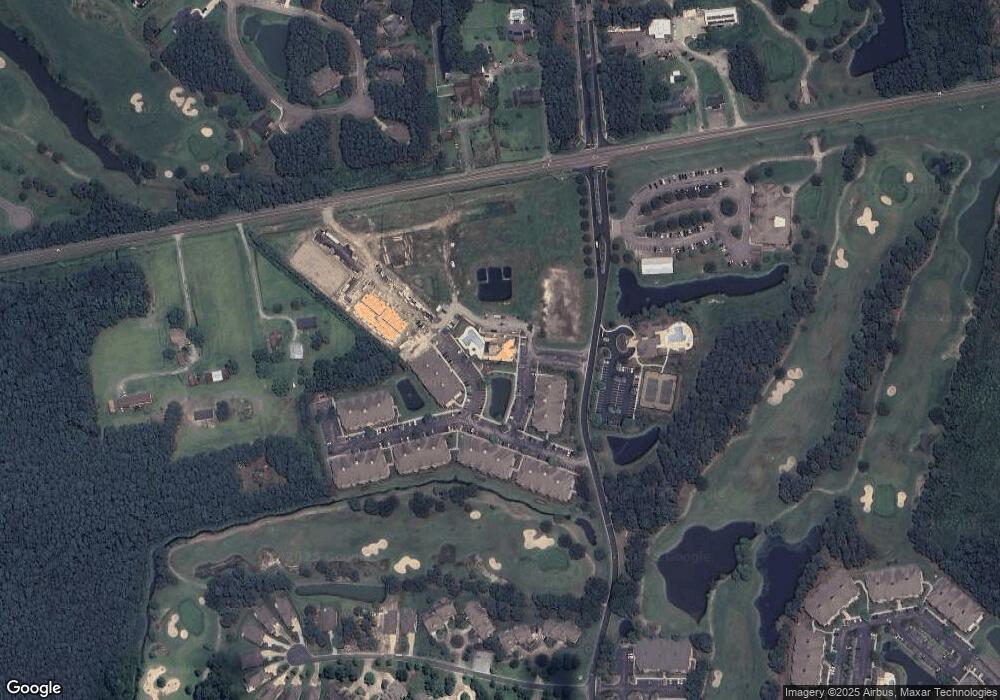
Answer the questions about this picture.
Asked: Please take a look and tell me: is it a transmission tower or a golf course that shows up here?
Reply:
golf course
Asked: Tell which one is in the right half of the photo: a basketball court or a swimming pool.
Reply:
swimming pool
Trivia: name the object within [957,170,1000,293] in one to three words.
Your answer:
pond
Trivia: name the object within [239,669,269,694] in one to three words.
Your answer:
house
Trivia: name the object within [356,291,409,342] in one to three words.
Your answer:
building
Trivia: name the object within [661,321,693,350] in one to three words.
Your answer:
swimming pool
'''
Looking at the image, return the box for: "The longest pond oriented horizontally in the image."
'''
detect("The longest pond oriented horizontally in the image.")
[617,265,789,316]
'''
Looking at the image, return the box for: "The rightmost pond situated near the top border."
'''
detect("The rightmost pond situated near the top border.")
[850,0,907,77]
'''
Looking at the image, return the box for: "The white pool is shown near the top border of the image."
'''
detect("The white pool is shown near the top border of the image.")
[509,9,524,23]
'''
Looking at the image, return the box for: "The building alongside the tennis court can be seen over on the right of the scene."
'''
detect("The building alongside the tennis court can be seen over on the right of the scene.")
[642,322,663,356]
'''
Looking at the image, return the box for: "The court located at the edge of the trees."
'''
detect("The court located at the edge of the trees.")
[641,372,678,410]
